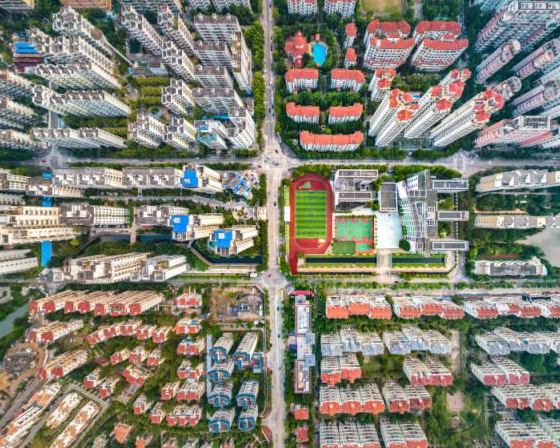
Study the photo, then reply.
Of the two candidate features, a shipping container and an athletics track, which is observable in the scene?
athletics track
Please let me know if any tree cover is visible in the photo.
Yes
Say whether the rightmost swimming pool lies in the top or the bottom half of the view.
top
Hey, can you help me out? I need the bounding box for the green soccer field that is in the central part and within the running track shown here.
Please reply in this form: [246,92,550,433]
[296,190,326,238]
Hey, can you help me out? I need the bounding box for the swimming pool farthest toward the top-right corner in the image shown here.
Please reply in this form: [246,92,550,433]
[309,41,329,65]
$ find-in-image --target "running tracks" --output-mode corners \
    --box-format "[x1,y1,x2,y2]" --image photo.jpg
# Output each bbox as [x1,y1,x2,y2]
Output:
[290,174,334,274]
